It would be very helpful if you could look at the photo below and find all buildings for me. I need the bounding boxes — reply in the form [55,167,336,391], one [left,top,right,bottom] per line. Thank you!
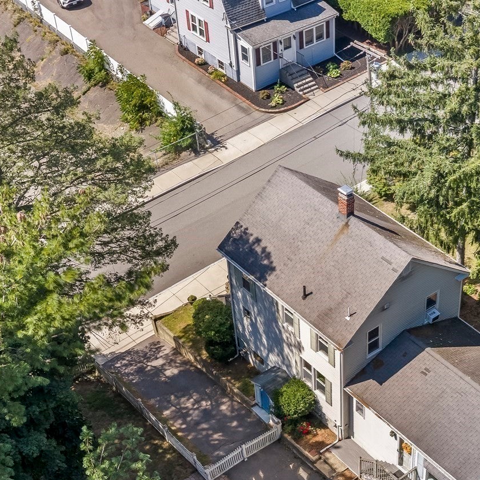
[141,0,344,89]
[216,167,480,480]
